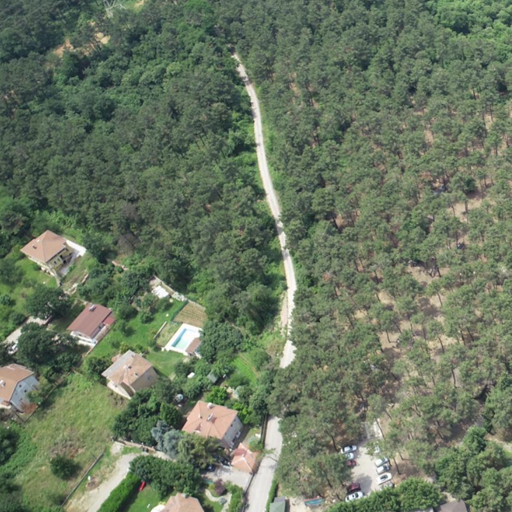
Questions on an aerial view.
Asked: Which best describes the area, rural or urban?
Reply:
rural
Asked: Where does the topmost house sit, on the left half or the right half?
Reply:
left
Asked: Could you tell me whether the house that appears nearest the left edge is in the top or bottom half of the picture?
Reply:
bottom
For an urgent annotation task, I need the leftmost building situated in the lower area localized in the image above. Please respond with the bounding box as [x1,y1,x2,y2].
[0,364,42,415]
